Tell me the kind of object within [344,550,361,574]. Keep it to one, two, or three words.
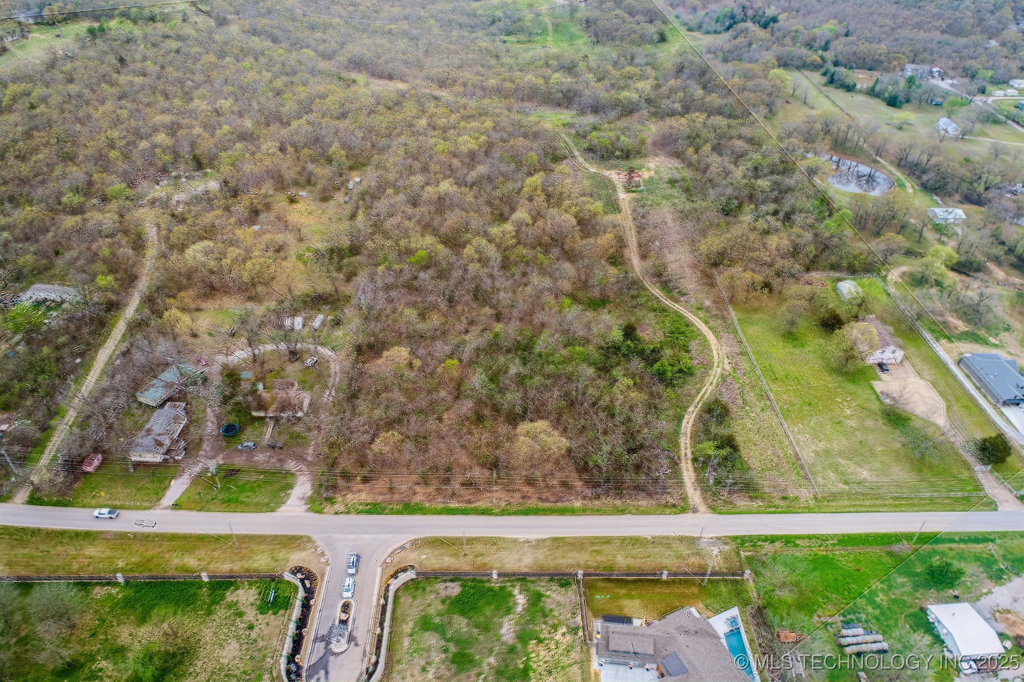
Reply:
car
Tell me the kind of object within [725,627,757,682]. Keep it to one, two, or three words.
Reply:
swimming pool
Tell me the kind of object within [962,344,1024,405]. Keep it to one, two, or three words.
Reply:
house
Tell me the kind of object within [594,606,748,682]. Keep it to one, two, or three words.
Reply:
building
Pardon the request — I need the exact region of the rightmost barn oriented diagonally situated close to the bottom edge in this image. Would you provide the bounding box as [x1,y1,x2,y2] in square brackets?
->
[924,603,1008,682]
